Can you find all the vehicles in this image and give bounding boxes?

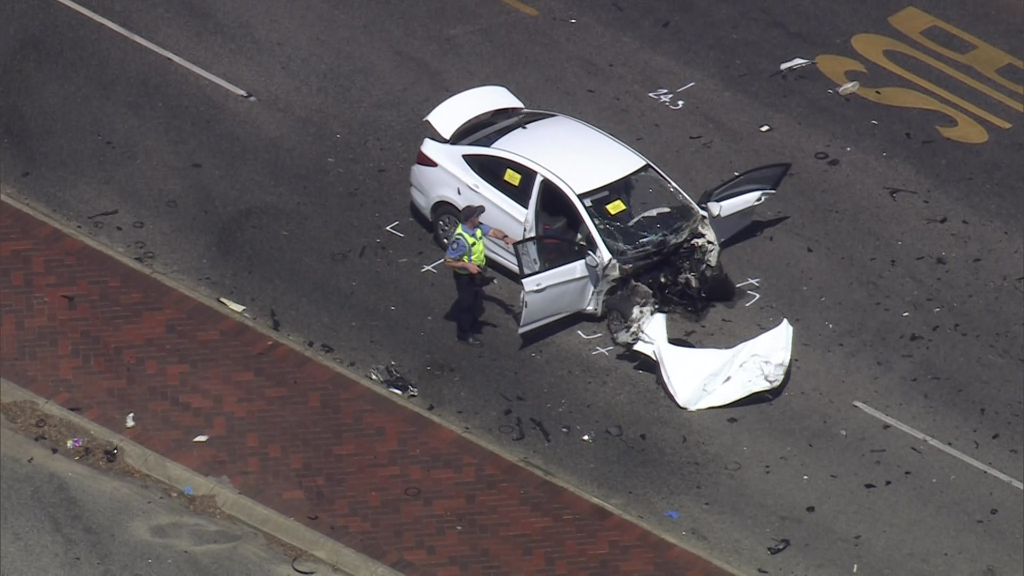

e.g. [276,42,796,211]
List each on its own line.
[410,84,789,351]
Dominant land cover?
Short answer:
paved ground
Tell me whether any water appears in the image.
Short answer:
No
